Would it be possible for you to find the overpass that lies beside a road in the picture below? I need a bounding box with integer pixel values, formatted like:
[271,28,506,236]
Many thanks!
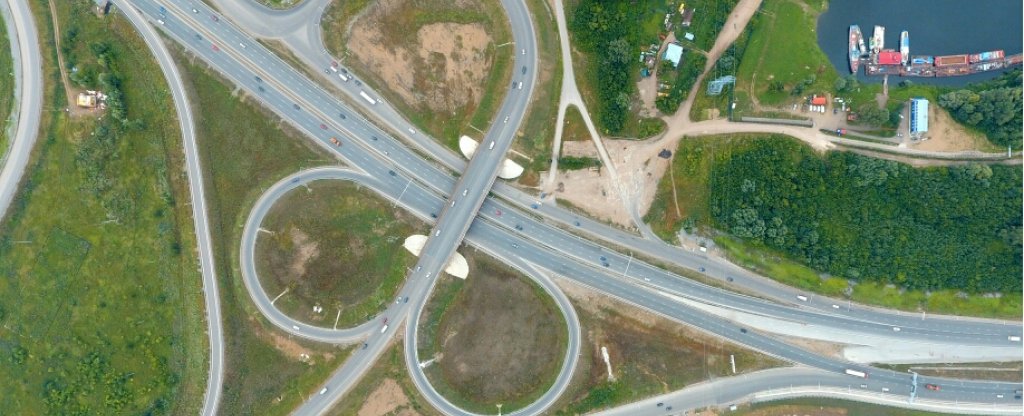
[404,135,523,280]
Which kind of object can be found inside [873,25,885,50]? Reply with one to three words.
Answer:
boat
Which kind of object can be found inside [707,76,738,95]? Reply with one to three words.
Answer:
pylon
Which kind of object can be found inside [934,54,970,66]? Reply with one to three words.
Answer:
ship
